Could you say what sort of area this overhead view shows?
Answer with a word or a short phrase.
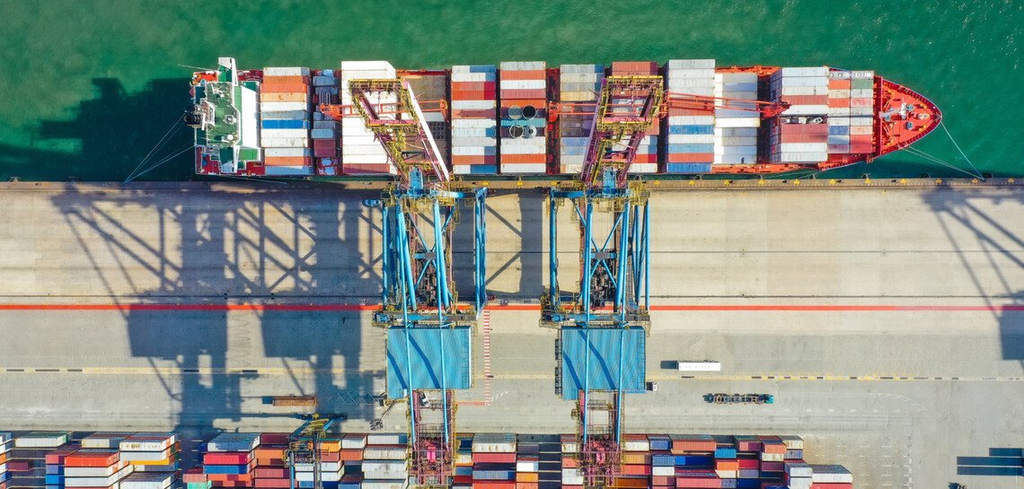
port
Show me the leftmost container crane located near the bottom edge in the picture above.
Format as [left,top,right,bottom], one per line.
[277,410,350,489]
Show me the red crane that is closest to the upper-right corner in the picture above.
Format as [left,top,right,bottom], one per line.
[664,88,794,118]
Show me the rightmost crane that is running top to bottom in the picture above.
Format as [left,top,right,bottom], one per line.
[539,83,669,489]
